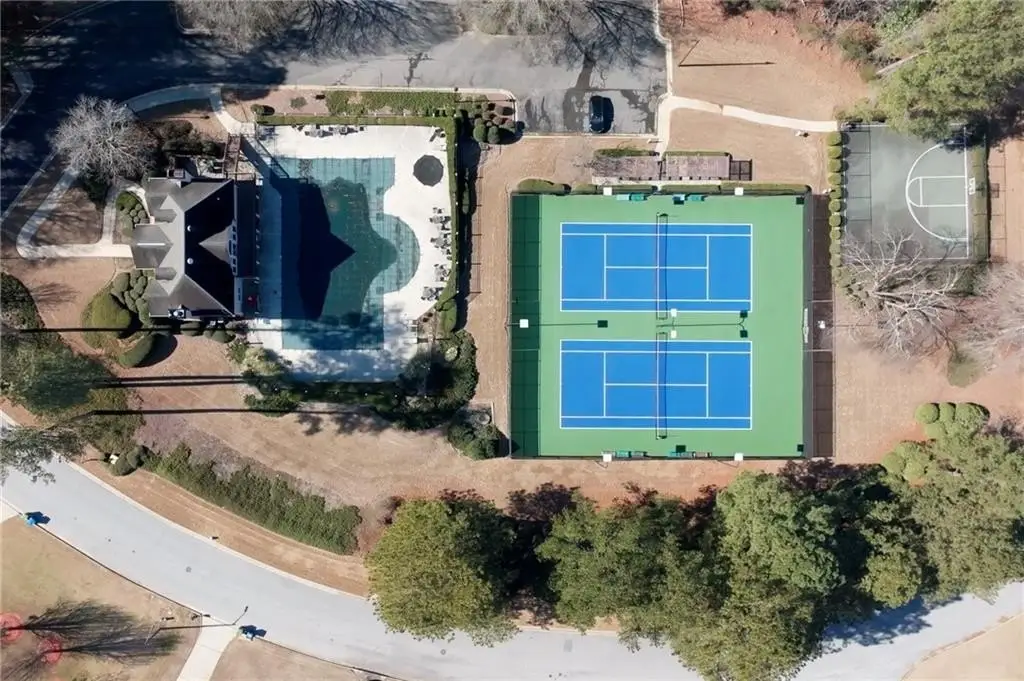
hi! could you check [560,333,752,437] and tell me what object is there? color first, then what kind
blue tennis court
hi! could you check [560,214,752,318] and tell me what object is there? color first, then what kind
blue tennis court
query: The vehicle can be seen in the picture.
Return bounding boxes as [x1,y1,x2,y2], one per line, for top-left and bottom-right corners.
[589,95,606,132]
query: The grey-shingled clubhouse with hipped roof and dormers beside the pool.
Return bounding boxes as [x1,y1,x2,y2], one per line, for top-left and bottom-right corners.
[131,164,267,320]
